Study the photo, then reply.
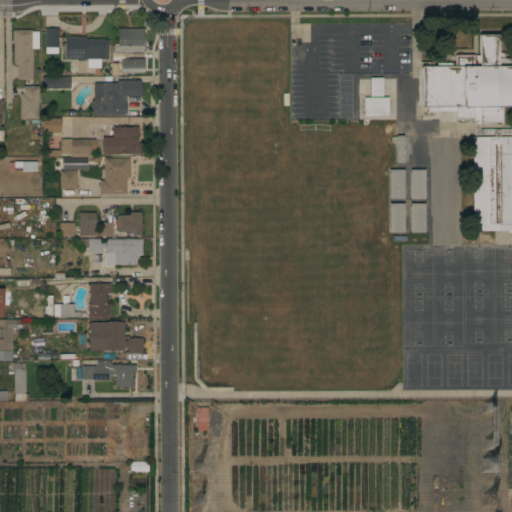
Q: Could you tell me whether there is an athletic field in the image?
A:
Yes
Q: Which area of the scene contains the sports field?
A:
center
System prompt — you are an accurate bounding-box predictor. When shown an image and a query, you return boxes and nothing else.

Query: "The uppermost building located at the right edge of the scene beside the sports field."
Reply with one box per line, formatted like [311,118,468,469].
[424,63,512,124]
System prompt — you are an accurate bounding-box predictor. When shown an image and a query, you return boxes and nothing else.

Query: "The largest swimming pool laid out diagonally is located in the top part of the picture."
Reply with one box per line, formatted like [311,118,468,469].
[76,86,92,106]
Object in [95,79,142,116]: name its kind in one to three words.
house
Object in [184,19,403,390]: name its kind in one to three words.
sports field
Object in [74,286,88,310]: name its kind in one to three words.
swimming pool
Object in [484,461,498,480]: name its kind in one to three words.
pylon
